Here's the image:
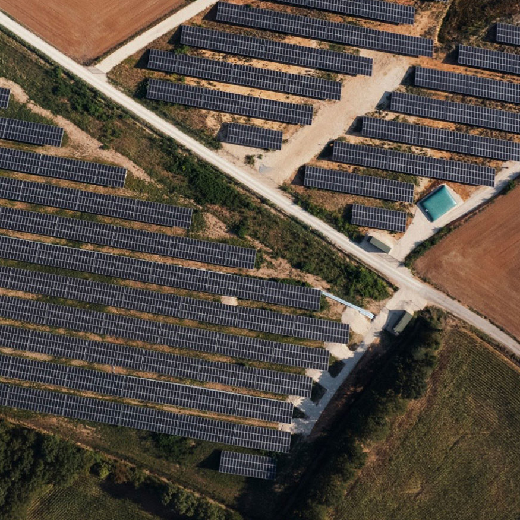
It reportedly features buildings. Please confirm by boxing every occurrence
[367,237,391,253]
[392,310,412,333]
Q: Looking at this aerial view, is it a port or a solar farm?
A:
solar farm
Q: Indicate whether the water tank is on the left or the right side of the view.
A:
right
